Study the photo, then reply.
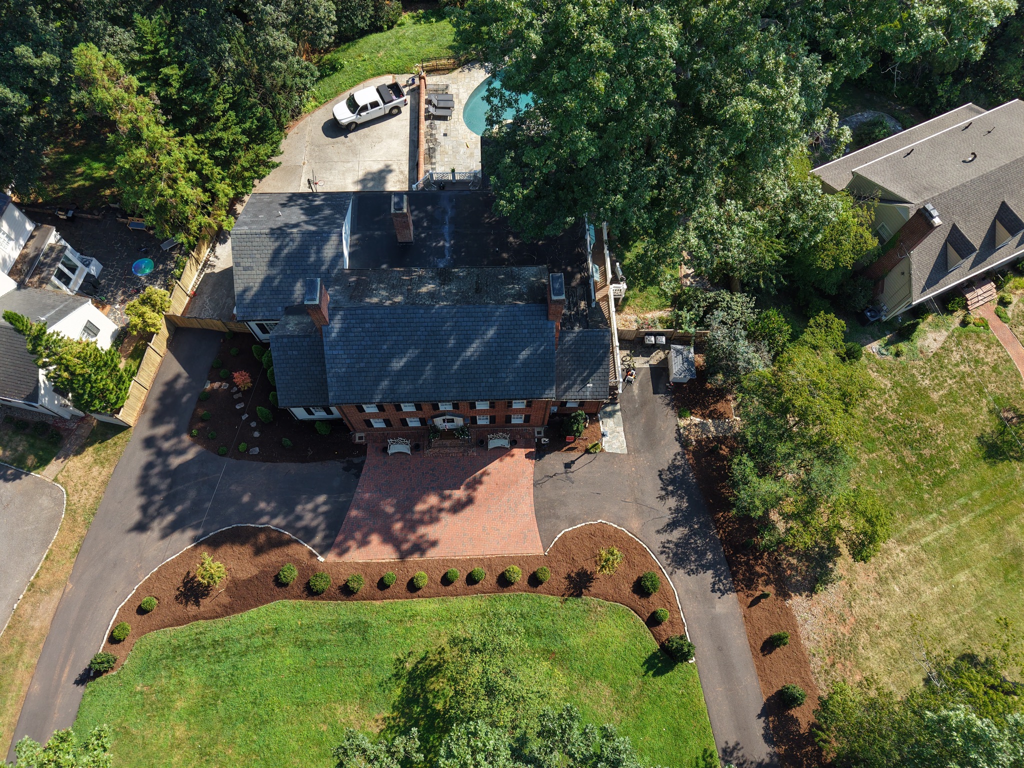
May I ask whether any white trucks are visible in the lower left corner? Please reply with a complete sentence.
No, no white truck appears in the lower left corner.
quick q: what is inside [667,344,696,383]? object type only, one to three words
shed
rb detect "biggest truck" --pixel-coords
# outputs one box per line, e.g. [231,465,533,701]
[328,83,410,131]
